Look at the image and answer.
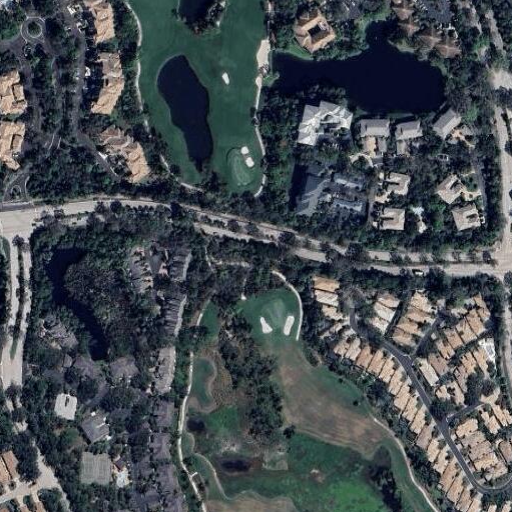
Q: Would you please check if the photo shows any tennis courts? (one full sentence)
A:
Yes, a tennis court is visible in the scene.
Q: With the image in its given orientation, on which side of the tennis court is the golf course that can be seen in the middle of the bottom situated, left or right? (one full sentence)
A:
The golf course that can be seen in the middle of the bottom can be seen on the right of the tennis court.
